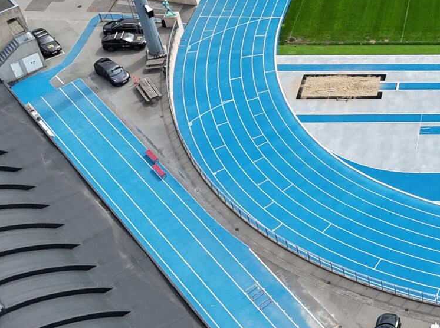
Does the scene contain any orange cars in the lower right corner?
No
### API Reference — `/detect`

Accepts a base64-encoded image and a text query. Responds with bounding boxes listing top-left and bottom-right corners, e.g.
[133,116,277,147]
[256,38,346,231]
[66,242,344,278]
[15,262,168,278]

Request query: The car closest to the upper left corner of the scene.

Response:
[35,29,60,57]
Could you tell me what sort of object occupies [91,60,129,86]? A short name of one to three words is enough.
car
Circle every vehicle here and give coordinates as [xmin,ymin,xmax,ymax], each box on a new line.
[373,308,400,328]
[35,29,60,57]
[91,60,129,86]
[100,19,143,38]
[100,35,145,53]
